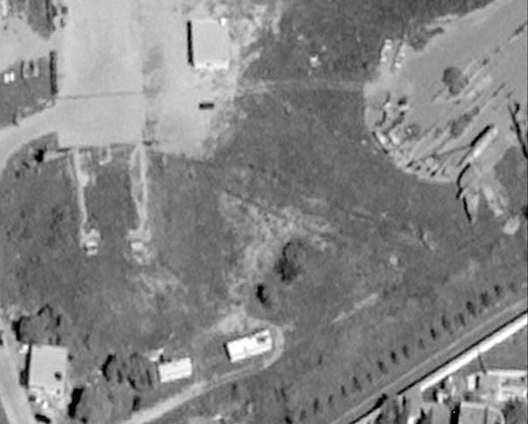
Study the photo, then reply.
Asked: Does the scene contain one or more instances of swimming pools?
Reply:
No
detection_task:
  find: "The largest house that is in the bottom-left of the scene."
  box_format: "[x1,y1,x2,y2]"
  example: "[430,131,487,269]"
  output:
[27,345,68,411]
